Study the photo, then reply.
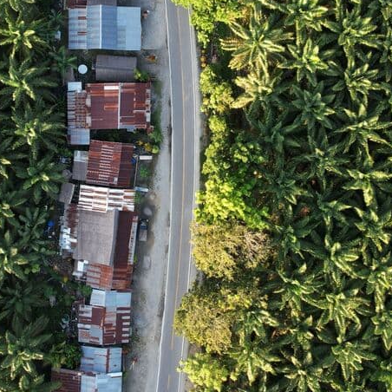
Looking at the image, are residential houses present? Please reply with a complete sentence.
Yes, a residential house can be made out from above.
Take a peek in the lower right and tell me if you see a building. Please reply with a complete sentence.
No, I see no building in the lower right.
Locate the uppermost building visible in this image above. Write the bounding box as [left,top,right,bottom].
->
[68,0,141,51]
